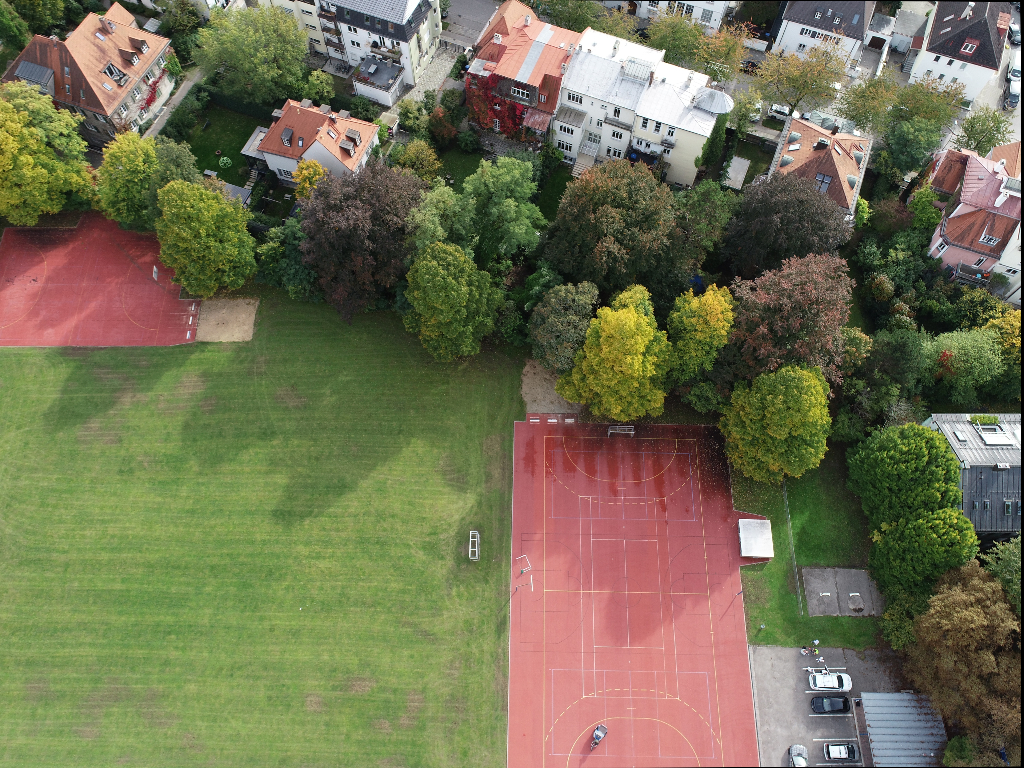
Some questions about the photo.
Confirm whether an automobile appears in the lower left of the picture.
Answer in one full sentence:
No, there is no automobile in the lower left of the picture.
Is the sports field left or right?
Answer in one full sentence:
The sports field sits on the left side.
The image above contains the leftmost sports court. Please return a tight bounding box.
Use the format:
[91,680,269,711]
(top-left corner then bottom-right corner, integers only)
[0,213,202,346]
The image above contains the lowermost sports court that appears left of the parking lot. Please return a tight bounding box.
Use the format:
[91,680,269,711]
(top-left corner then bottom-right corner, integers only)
[507,413,772,768]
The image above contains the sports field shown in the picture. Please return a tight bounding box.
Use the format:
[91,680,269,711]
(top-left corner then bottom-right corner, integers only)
[0,205,548,768]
